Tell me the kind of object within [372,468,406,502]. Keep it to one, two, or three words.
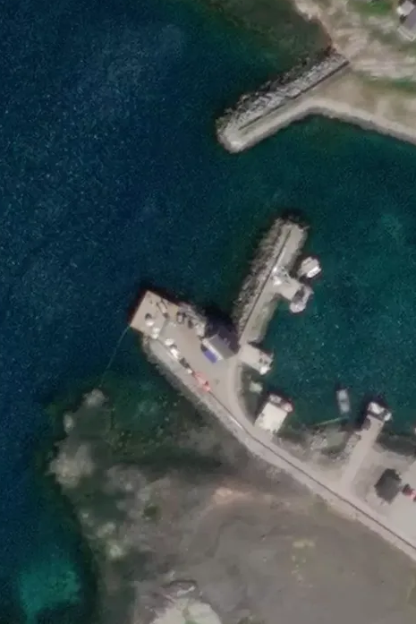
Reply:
house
